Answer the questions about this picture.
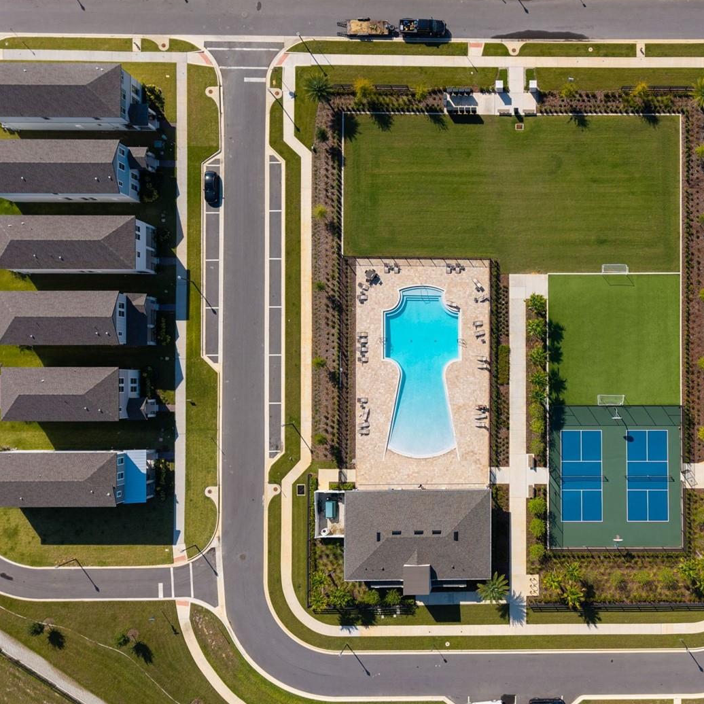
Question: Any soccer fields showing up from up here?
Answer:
Yes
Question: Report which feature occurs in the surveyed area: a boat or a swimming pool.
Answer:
swimming pool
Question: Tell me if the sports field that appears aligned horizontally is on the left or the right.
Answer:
right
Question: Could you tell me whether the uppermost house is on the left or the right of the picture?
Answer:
left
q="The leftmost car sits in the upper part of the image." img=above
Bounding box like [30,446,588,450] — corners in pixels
[203,171,220,204]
